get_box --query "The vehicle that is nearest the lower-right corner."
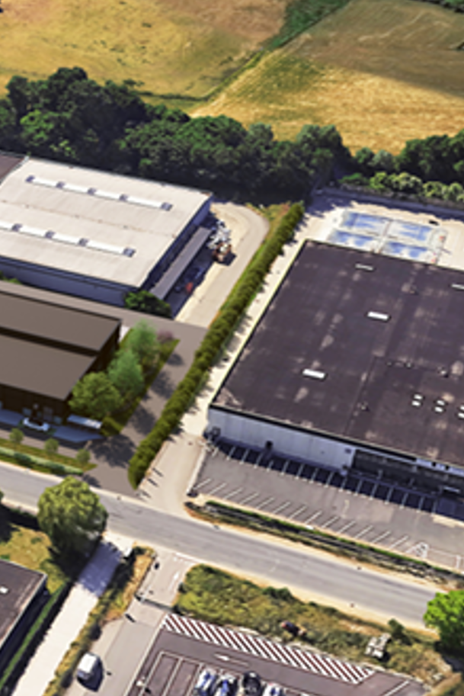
[264,678,284,696]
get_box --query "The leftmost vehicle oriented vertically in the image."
[80,642,97,683]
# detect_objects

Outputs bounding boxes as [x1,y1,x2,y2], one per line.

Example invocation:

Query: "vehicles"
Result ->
[193,667,214,694]
[241,671,262,696]
[213,673,234,696]
[80,642,97,683]
[264,678,284,696]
